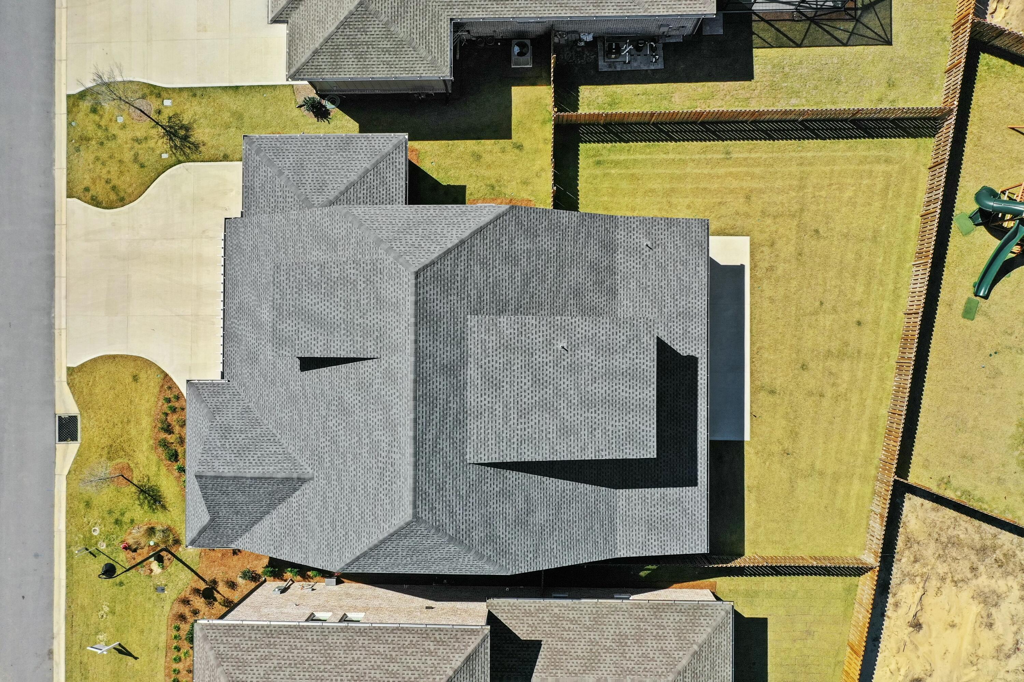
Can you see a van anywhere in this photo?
No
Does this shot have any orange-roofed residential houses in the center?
No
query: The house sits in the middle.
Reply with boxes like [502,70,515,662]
[183,131,712,577]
